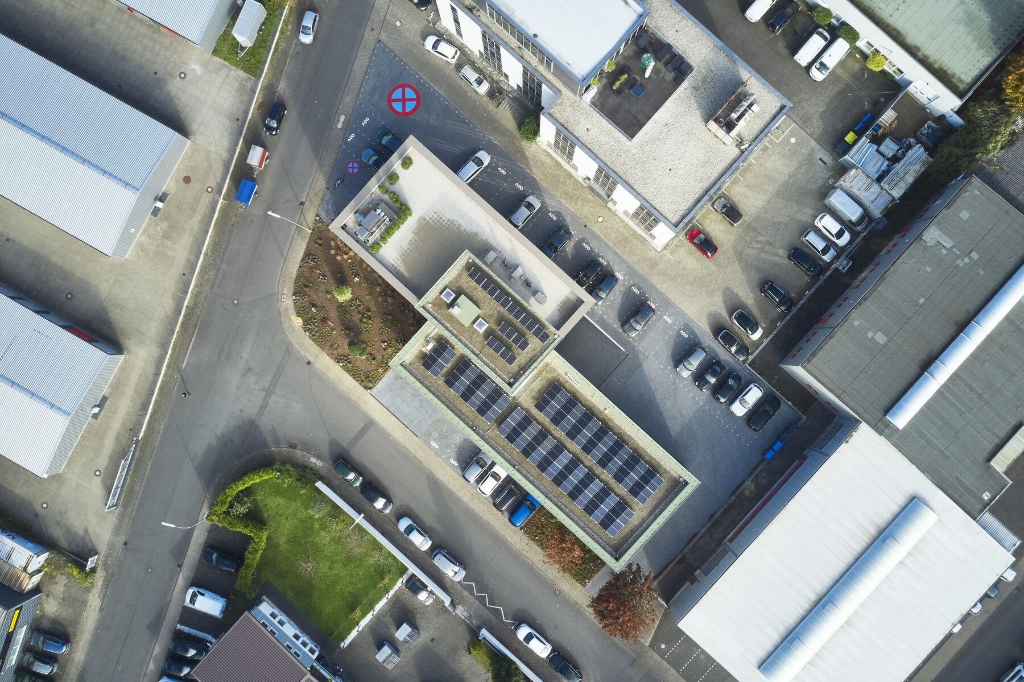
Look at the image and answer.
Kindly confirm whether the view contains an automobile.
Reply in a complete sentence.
Yes, an automobile is visible in the scene.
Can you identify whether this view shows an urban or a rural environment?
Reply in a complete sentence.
It looks urban.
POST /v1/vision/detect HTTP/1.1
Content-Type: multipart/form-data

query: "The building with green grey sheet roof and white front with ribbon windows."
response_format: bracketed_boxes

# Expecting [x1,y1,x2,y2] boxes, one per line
[804,0,1024,138]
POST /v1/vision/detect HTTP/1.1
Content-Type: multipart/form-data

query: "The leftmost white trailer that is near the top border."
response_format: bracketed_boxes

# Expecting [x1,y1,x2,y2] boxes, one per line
[229,0,267,58]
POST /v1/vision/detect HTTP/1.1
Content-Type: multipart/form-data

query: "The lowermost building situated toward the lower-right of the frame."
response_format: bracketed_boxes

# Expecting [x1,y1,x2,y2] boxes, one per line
[667,417,1016,682]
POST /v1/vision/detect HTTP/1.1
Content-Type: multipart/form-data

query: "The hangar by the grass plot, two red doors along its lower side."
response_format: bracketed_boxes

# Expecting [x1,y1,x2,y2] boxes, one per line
[100,0,238,57]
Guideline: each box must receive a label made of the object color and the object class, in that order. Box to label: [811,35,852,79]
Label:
white van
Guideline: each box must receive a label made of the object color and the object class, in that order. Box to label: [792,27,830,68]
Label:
white van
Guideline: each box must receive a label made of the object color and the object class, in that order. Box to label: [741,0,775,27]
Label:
white vehicle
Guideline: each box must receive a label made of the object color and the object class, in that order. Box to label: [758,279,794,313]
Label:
black car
